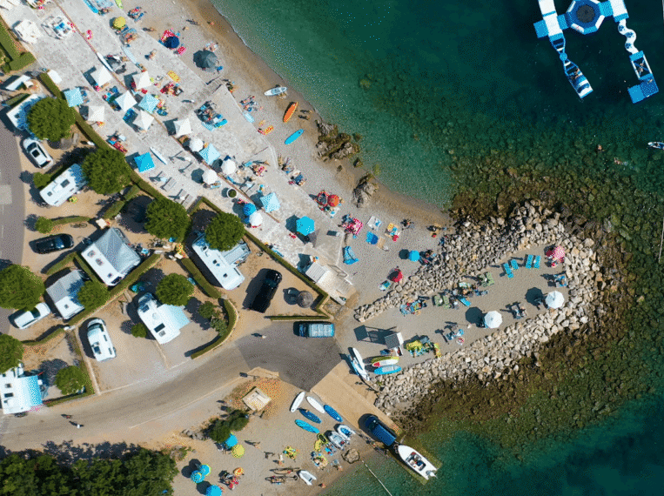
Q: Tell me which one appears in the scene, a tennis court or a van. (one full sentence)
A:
Visible in the photo is a van.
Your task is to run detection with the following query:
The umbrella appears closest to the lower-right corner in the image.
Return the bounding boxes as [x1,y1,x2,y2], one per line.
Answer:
[545,290,564,309]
